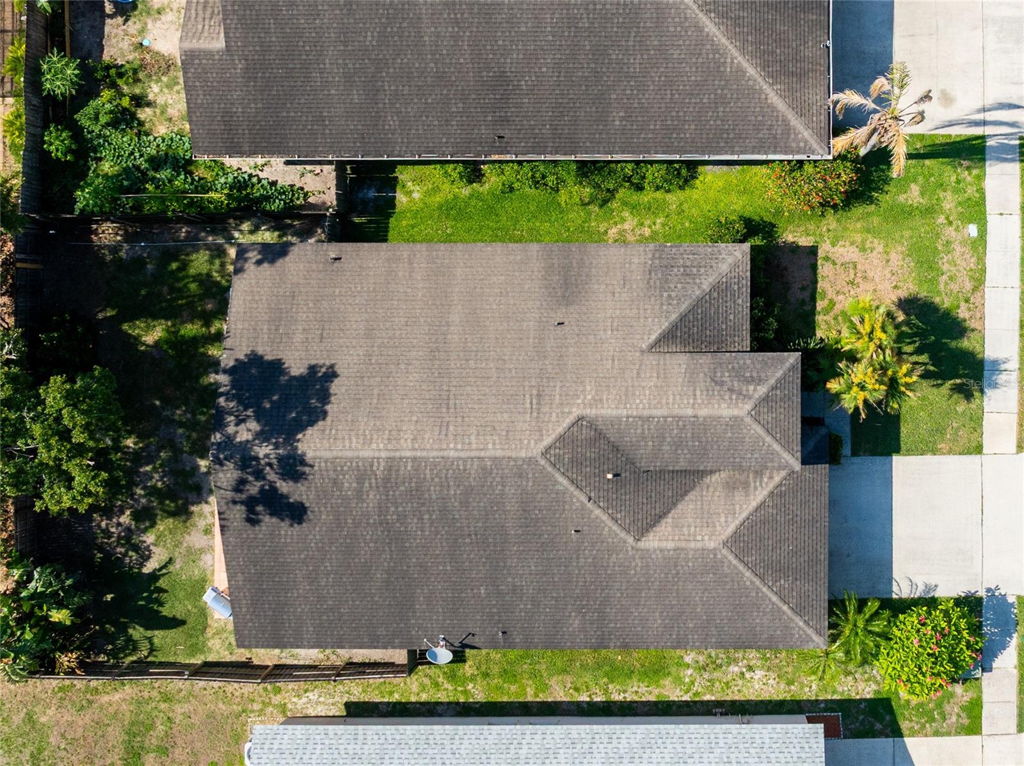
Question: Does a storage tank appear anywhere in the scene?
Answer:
No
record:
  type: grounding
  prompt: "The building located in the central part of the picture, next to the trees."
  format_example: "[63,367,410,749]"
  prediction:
[209,241,828,651]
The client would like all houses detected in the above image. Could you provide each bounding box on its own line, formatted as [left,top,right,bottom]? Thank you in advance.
[249,707,829,766]
[178,0,832,163]
[209,241,828,651]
